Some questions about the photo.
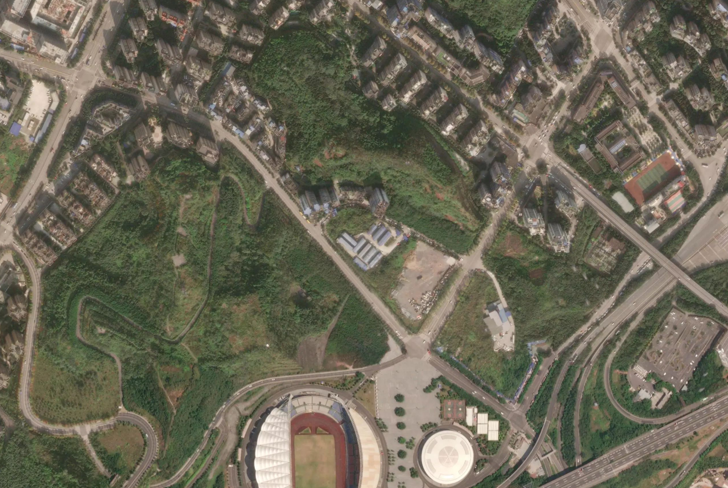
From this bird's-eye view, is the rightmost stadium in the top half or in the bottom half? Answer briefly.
bottom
